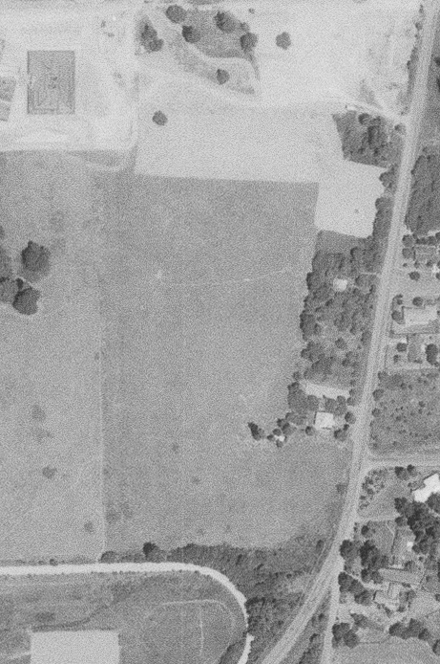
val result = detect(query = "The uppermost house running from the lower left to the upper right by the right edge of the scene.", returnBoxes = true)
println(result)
[411,475,440,503]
